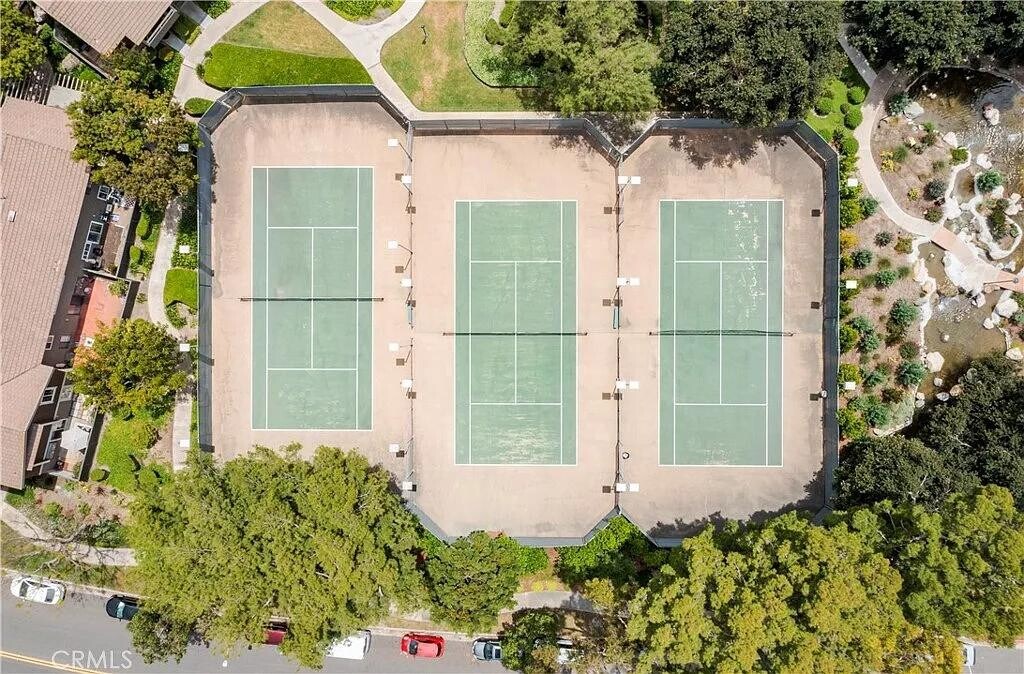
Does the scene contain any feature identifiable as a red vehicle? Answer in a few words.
Yes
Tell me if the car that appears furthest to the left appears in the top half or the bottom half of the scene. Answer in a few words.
bottom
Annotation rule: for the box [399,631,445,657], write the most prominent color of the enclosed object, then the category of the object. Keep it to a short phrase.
red car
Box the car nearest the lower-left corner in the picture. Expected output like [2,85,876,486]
[8,574,66,604]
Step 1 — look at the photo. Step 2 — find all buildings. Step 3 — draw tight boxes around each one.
[0,96,121,491]
[30,0,190,59]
